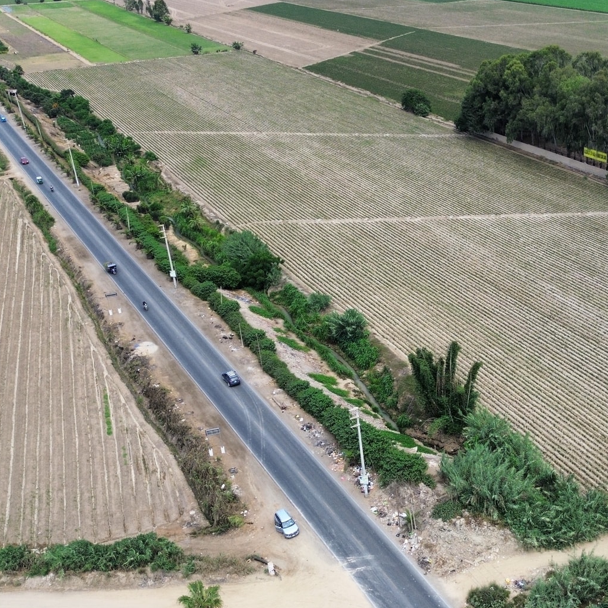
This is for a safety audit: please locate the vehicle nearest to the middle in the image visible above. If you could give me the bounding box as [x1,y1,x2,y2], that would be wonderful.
[223,371,242,386]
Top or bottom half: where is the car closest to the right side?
bottom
